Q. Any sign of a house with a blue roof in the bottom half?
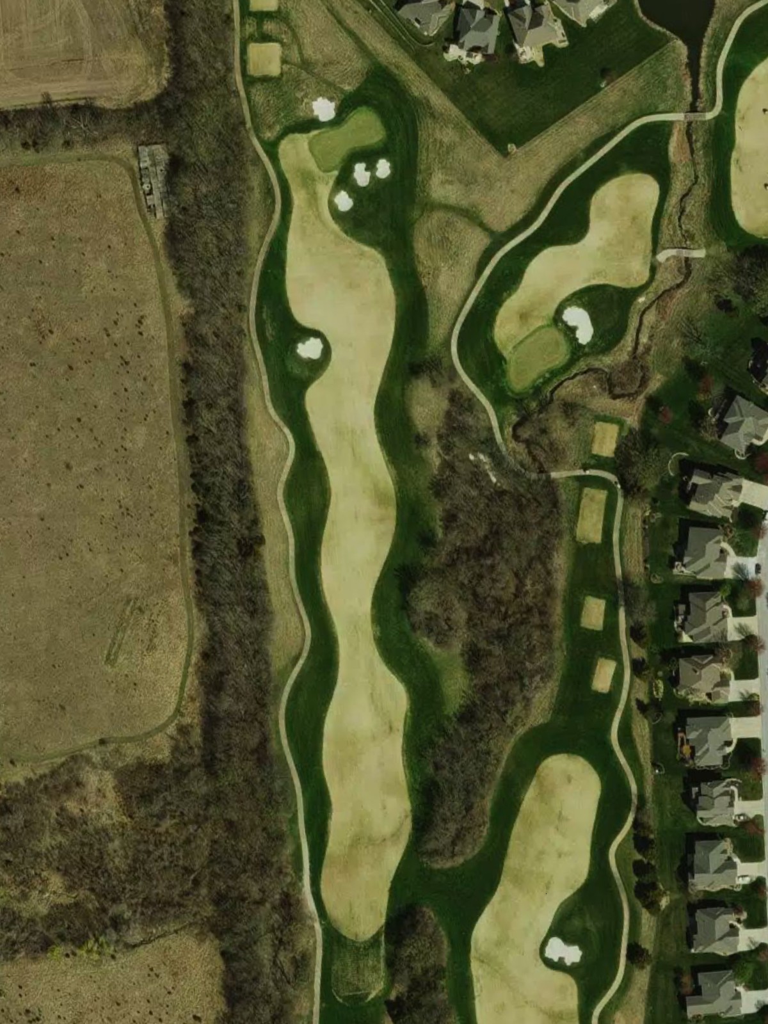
No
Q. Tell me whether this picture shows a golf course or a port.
golf course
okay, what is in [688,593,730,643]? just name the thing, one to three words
house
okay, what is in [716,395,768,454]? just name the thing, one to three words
house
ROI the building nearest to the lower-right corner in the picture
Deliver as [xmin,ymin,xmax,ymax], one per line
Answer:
[688,972,743,1019]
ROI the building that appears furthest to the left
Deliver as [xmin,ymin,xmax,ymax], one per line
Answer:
[397,0,453,34]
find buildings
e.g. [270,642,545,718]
[684,526,726,580]
[508,0,560,45]
[687,469,745,520]
[694,908,741,954]
[688,972,743,1019]
[687,717,734,766]
[716,395,768,454]
[688,593,730,643]
[397,0,453,34]
[689,842,739,889]
[456,4,499,54]
[681,655,731,703]
[555,0,606,25]
[698,783,735,826]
